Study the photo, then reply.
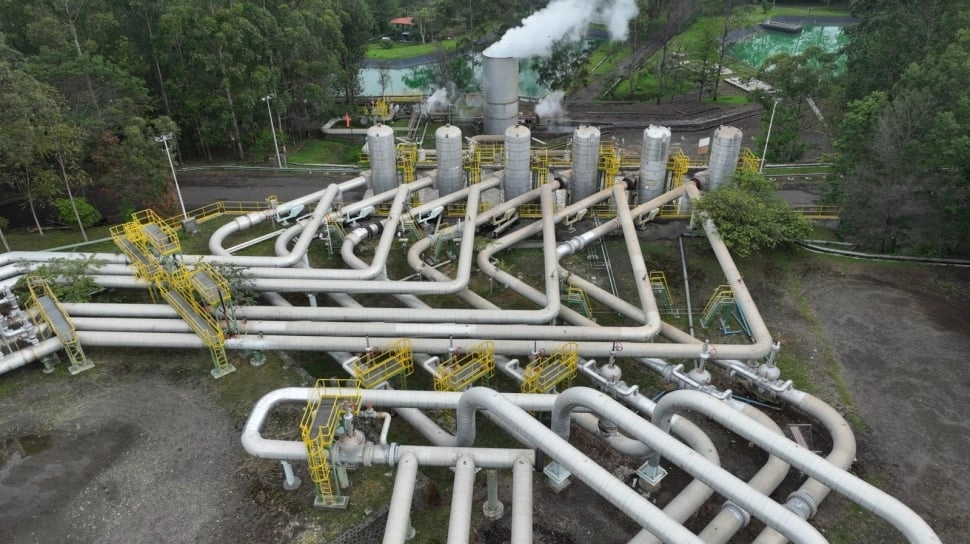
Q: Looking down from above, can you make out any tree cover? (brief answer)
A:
Yes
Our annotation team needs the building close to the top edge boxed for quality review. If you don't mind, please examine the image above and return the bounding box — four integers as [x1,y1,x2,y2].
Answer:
[385,11,417,39]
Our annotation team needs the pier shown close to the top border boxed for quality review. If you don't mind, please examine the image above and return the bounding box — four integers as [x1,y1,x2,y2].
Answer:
[760,12,805,37]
